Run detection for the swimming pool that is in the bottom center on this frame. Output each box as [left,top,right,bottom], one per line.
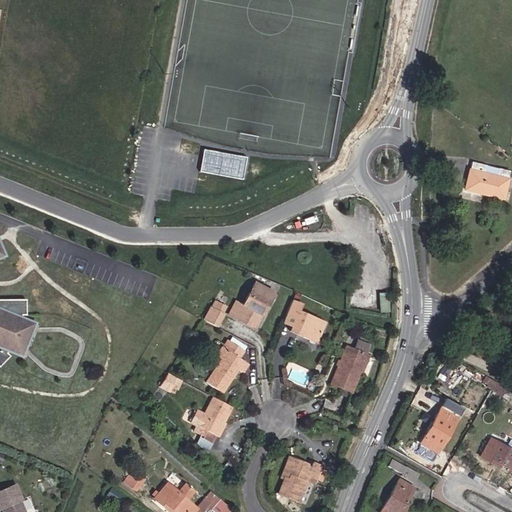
[286,362,309,388]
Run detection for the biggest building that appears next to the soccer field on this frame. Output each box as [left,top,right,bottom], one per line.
[200,149,248,180]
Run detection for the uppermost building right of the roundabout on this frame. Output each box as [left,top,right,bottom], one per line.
[464,162,512,202]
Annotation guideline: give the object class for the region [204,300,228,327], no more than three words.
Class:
building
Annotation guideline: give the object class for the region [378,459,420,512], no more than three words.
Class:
house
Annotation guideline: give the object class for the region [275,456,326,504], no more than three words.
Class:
house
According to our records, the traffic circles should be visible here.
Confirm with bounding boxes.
[354,130,418,198]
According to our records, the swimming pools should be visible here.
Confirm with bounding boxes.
[483,412,495,424]
[286,362,309,388]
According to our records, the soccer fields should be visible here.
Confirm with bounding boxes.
[165,0,356,160]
